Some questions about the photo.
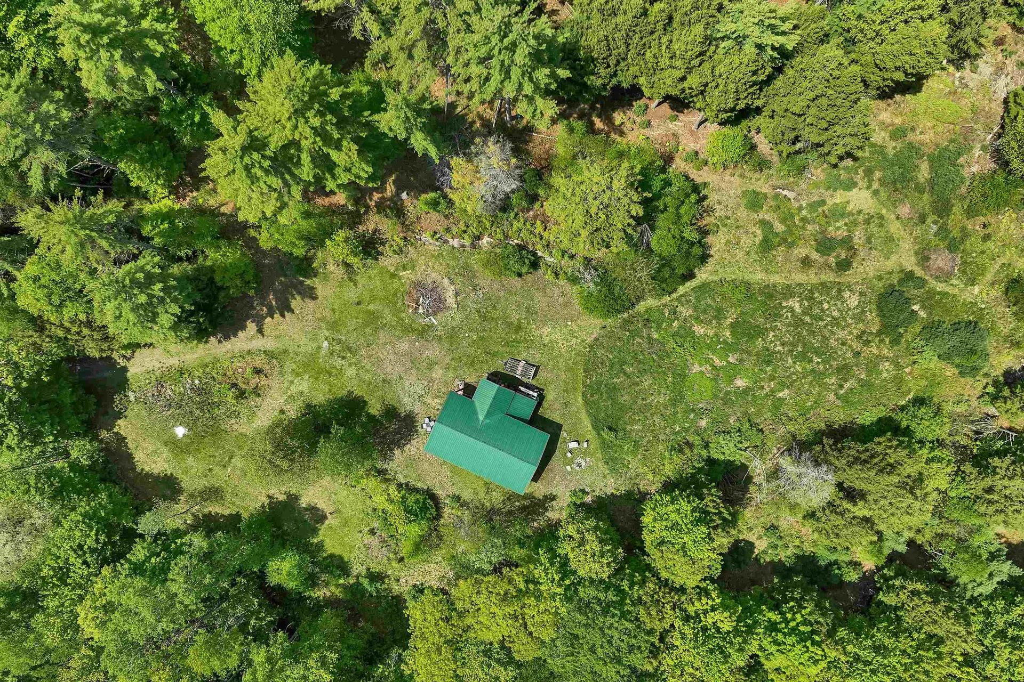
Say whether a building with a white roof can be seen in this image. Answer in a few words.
No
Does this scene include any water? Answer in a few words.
No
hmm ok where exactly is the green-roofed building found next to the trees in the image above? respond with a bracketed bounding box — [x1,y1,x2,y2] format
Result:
[423,367,550,496]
